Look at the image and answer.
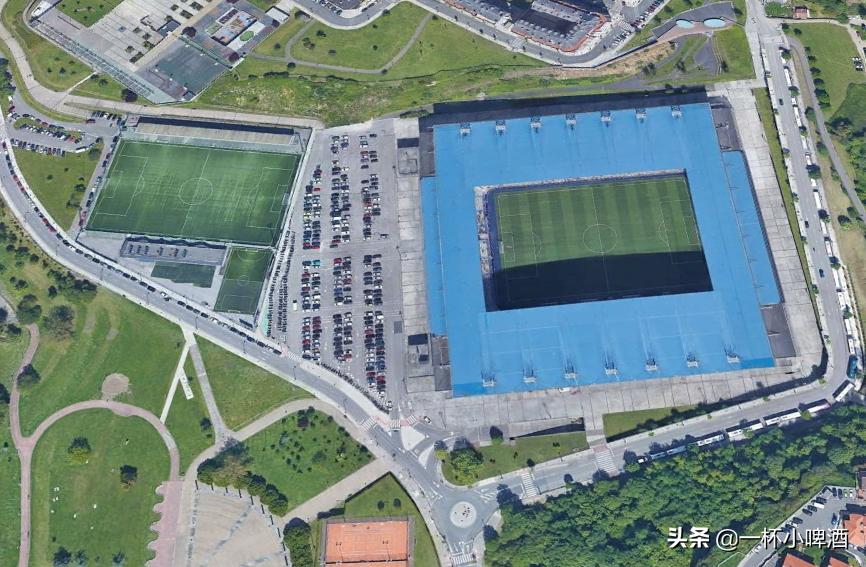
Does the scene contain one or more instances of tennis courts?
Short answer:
Yes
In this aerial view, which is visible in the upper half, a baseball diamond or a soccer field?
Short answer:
soccer field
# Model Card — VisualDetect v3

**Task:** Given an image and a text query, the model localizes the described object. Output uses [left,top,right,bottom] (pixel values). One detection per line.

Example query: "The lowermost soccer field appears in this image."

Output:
[214,246,272,314]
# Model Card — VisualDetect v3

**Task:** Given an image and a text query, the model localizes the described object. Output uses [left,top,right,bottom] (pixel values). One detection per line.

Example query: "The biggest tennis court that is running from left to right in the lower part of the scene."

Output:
[326,522,416,566]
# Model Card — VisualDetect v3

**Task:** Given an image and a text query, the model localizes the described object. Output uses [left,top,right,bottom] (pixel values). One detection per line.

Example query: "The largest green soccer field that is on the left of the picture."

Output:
[82,138,304,250]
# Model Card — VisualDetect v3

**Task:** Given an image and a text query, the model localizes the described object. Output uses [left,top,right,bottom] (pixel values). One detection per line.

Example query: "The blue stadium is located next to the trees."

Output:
[419,96,797,399]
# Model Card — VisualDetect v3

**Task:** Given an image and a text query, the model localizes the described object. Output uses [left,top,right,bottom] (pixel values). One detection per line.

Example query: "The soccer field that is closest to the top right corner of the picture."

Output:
[491,175,711,305]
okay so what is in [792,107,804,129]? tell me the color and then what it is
white vehicle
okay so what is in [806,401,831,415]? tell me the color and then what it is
white vehicle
